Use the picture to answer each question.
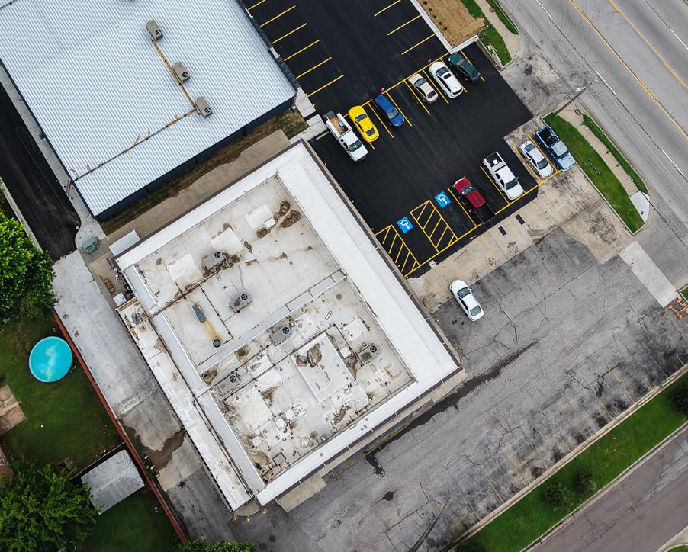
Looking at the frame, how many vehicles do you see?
eleven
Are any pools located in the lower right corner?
No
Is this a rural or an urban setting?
urban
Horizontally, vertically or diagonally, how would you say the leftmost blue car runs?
diagonally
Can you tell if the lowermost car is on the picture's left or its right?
right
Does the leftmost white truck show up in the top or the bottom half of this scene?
top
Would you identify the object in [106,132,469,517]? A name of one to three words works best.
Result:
building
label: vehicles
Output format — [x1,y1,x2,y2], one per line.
[374,92,405,128]
[519,138,554,179]
[428,62,464,99]
[326,112,367,161]
[481,151,523,200]
[533,124,576,170]
[446,50,484,87]
[405,72,441,106]
[349,105,380,143]
[452,176,496,227]
[451,278,486,323]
